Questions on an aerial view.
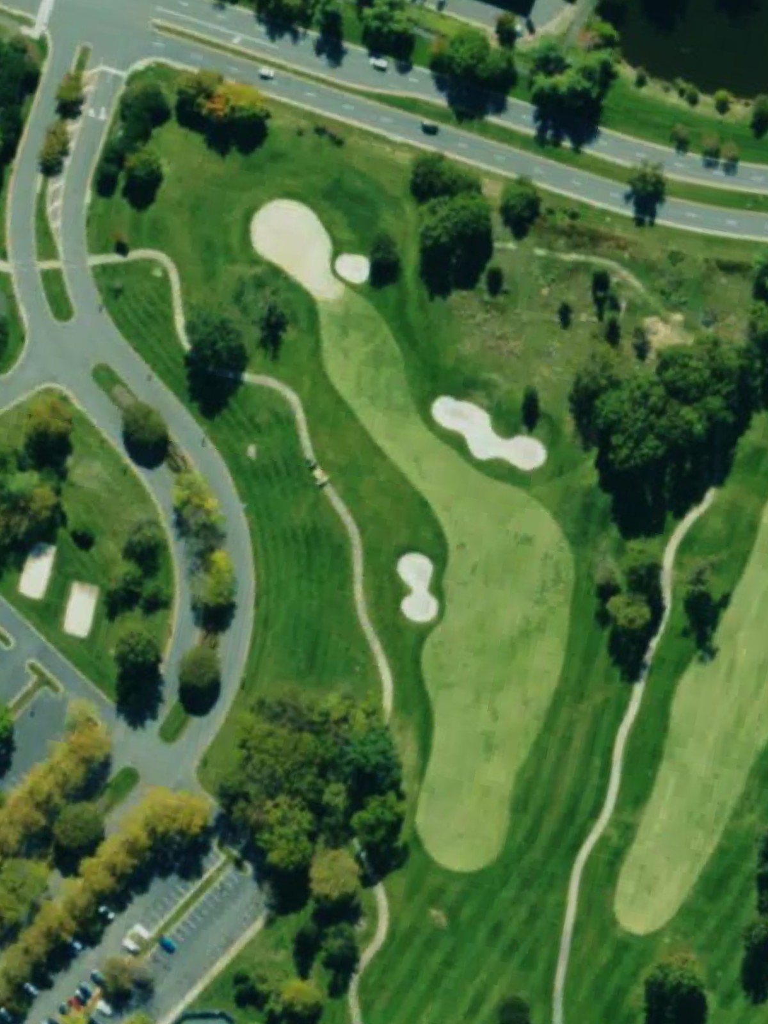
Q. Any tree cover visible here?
Yes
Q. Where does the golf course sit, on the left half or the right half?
right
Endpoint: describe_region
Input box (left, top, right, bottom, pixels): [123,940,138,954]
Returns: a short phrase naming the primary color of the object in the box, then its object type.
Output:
white car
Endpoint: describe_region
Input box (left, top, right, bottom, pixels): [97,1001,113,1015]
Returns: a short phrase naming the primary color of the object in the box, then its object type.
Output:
white car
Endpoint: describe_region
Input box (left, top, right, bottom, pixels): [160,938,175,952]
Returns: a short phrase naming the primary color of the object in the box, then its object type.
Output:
blue car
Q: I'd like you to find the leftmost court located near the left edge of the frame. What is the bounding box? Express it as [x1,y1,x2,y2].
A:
[17,543,57,601]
